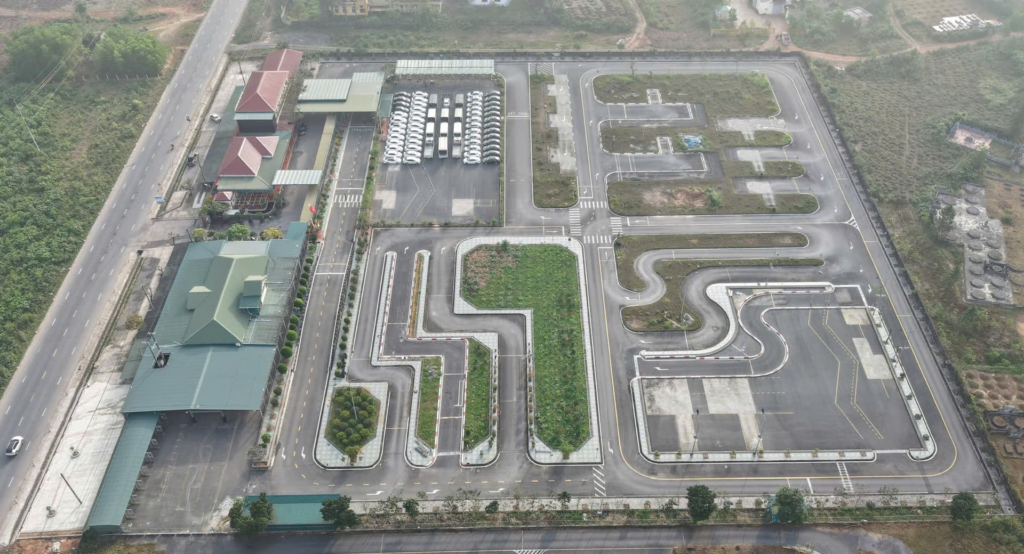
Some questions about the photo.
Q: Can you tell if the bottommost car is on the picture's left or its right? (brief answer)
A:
left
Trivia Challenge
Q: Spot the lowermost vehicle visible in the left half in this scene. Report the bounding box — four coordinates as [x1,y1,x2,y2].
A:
[4,436,25,459]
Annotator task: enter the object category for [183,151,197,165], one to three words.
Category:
vehicle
